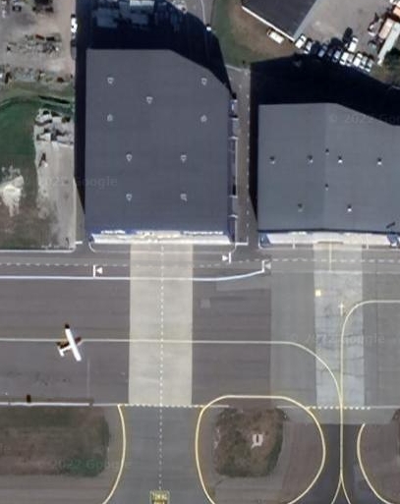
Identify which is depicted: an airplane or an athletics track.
airplane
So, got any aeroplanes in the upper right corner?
No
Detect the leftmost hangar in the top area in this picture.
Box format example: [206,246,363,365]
[85,48,242,246]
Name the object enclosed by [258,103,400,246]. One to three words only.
hangar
